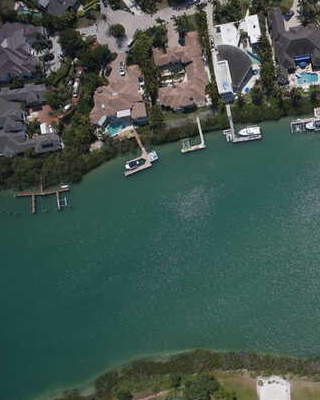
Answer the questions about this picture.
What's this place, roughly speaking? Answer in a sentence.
What you see here is a residential area.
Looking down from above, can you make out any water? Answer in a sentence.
Yes, the picture does contain water.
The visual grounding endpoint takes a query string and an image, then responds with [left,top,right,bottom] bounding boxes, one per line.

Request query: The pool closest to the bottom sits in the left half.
[107,121,125,135]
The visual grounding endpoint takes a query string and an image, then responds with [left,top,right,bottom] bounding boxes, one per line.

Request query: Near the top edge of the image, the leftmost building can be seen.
[0,17,54,89]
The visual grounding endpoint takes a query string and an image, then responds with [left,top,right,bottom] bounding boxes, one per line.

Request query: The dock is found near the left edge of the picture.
[16,171,72,214]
